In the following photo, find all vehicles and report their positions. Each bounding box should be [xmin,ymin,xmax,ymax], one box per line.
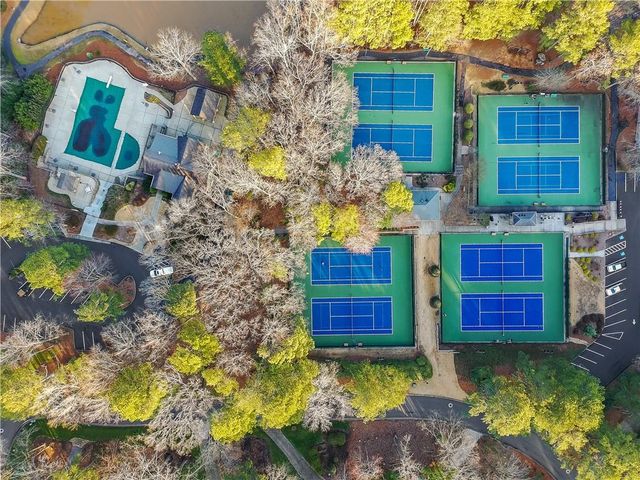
[606,286,623,296]
[149,266,172,276]
[607,262,628,272]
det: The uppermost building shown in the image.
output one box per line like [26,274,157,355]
[191,87,221,121]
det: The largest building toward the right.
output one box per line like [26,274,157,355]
[402,189,441,222]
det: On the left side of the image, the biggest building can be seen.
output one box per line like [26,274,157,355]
[142,131,200,202]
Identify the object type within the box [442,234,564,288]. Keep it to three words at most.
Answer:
tennis court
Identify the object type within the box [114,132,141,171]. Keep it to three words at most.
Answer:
swimming pool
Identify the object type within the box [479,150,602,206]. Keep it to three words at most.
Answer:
tennis court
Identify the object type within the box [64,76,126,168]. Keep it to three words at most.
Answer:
swimming pool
